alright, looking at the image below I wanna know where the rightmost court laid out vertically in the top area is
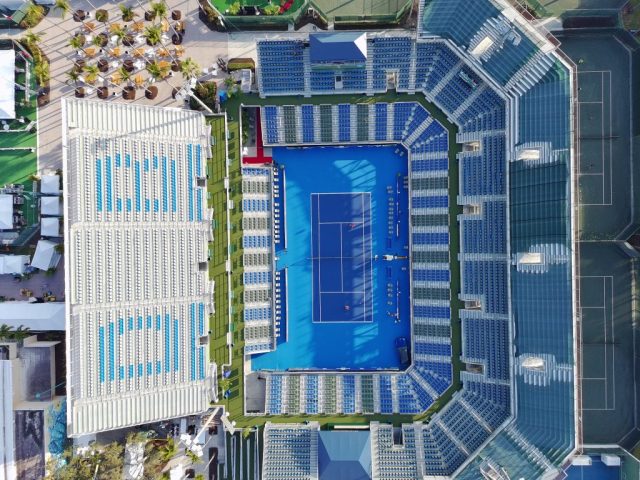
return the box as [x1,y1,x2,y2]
[566,36,631,240]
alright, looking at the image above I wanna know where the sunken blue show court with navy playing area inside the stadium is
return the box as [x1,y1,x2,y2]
[252,146,410,371]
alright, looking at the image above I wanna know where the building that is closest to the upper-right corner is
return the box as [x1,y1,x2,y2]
[309,31,366,72]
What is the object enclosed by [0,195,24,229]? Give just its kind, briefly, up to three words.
tent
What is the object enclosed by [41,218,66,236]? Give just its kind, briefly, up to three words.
tent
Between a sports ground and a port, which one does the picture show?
sports ground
